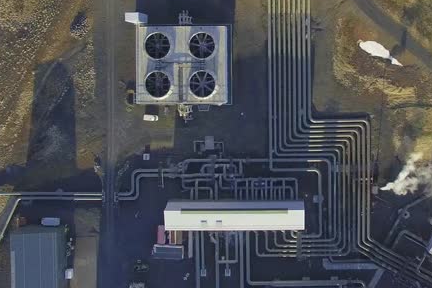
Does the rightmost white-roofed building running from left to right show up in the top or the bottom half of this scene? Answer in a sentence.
The rightmost white-roofed building running from left to right sits in the bottom half of the picture.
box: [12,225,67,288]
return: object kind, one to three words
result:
shed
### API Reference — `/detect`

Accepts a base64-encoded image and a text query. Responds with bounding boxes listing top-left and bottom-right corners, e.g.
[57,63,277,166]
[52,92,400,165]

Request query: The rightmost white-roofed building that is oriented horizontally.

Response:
[165,202,304,231]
